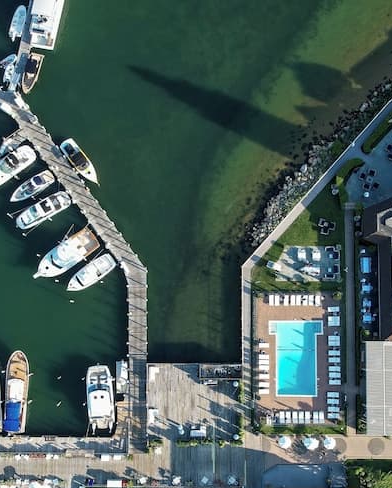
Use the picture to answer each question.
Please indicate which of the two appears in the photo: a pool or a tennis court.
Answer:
pool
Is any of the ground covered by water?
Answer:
Yes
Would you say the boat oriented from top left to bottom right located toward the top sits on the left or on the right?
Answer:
left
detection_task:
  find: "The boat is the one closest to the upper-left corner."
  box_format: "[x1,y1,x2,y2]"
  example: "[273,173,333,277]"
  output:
[8,5,25,42]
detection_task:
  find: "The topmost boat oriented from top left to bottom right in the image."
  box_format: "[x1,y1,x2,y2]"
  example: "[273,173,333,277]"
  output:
[60,138,99,184]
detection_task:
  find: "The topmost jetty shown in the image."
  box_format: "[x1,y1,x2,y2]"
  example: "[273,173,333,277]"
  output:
[10,0,40,94]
